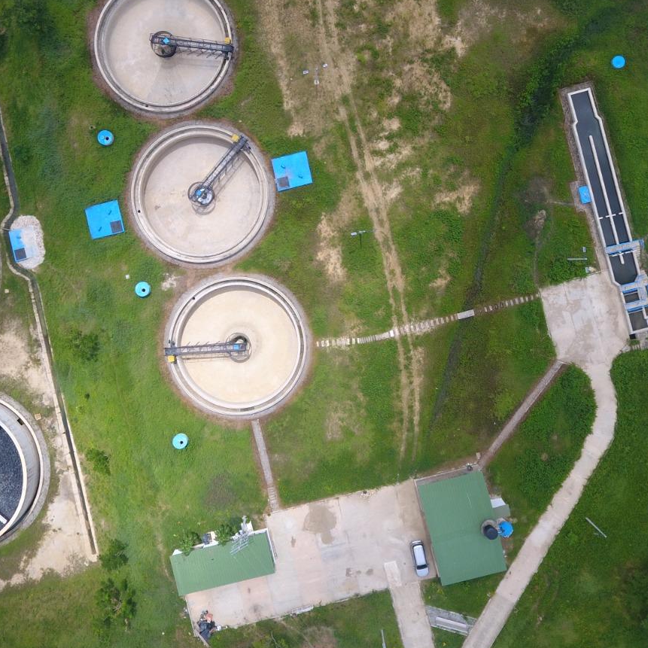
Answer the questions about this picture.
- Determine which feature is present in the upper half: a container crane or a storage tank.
storage tank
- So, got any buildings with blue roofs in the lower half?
No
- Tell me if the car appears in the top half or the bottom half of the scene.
bottom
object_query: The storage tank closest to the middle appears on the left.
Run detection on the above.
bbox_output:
[165,278,308,416]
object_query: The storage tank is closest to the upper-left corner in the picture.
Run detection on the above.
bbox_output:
[94,0,235,112]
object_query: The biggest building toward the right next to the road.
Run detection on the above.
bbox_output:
[419,470,507,587]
